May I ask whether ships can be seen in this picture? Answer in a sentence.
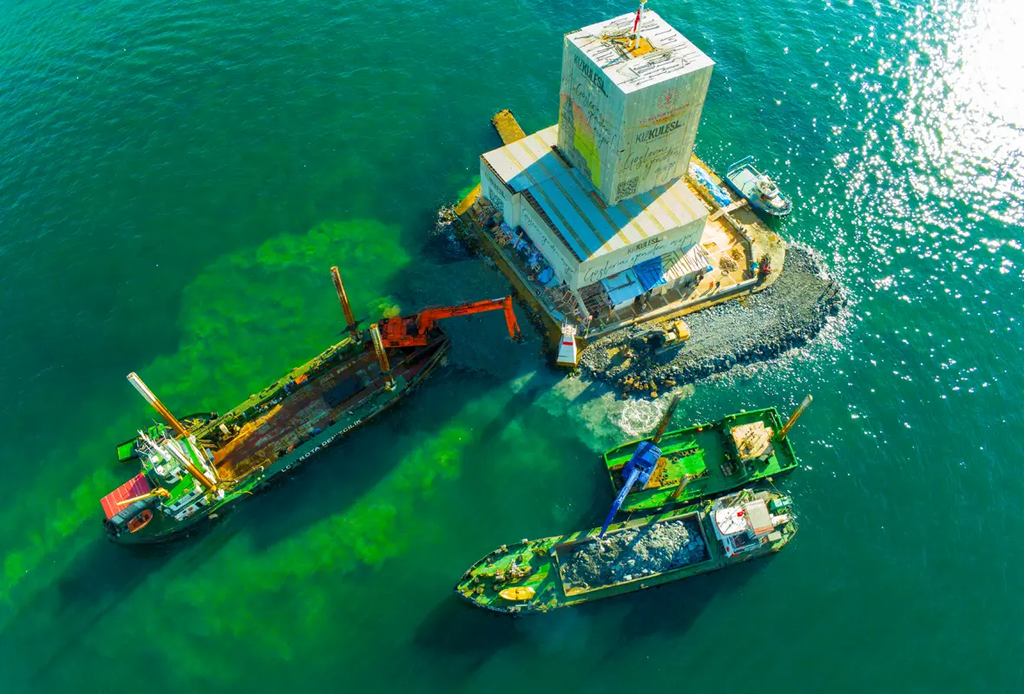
Yes, looking at the shot, I can spot a ship.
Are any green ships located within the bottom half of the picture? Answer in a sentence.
Yes, a green ship is visible within the bottom half of the picture.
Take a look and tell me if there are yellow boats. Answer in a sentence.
Yes, the image includes a yellow boat.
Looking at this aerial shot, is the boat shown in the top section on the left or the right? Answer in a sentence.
You can find the boat shown in the top section on the right side of the picture.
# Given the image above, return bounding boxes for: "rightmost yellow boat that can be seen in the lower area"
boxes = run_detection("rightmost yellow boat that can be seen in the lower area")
[500,586,538,602]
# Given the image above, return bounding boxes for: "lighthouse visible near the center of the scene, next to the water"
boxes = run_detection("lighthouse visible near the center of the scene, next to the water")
[549,322,577,377]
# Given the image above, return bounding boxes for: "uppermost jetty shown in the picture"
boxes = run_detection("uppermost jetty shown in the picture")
[494,111,530,144]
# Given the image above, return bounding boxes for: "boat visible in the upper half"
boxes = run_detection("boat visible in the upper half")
[724,156,795,220]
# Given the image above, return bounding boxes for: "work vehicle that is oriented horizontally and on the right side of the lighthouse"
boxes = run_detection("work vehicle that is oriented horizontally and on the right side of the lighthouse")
[621,314,689,351]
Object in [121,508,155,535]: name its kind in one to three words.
boat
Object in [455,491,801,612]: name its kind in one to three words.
ship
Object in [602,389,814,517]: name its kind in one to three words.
ship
